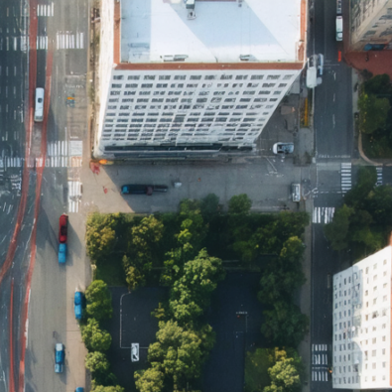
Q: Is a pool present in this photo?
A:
No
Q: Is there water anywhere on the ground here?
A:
No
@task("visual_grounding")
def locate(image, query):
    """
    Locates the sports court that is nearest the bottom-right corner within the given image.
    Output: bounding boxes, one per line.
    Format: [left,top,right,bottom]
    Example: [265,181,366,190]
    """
[216,265,262,392]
